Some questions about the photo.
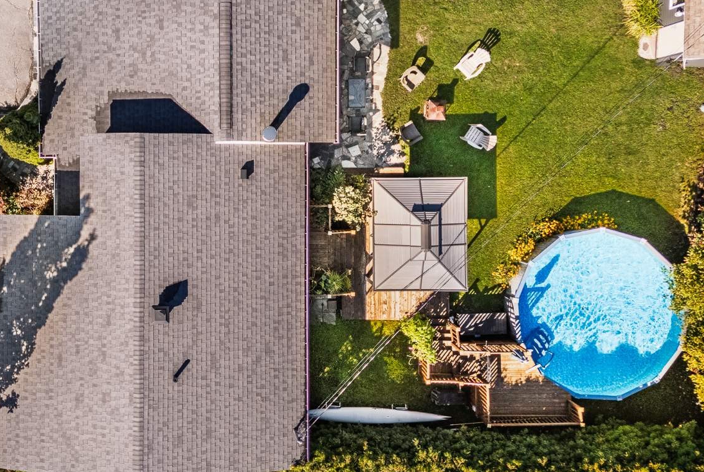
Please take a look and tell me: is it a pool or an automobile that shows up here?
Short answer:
pool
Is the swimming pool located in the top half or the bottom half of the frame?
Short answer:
bottom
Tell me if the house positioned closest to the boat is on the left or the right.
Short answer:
left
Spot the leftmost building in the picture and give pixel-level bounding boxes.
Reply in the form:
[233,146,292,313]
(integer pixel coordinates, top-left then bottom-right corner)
[0,0,343,472]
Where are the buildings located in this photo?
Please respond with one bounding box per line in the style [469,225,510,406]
[654,0,704,67]
[0,0,343,472]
